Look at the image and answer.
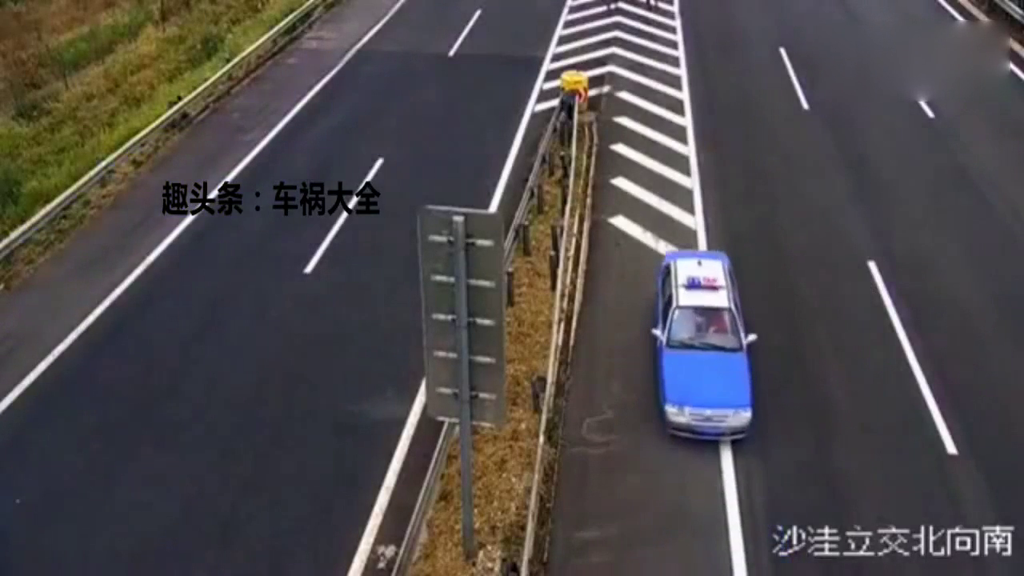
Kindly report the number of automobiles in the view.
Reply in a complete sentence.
Just 1 automobile appears in this view.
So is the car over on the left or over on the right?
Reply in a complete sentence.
The car is on the right side of the image.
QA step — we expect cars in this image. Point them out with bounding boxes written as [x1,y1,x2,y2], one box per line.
[651,250,760,442]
